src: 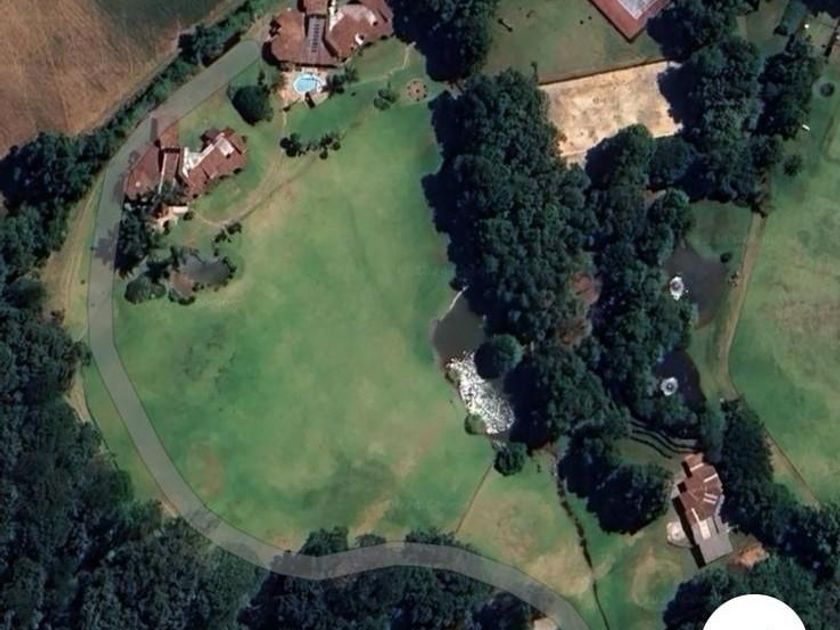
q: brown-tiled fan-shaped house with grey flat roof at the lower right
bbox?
[667,452,733,565]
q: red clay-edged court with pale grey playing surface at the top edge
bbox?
[590,0,670,42]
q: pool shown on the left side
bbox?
[279,66,330,109]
